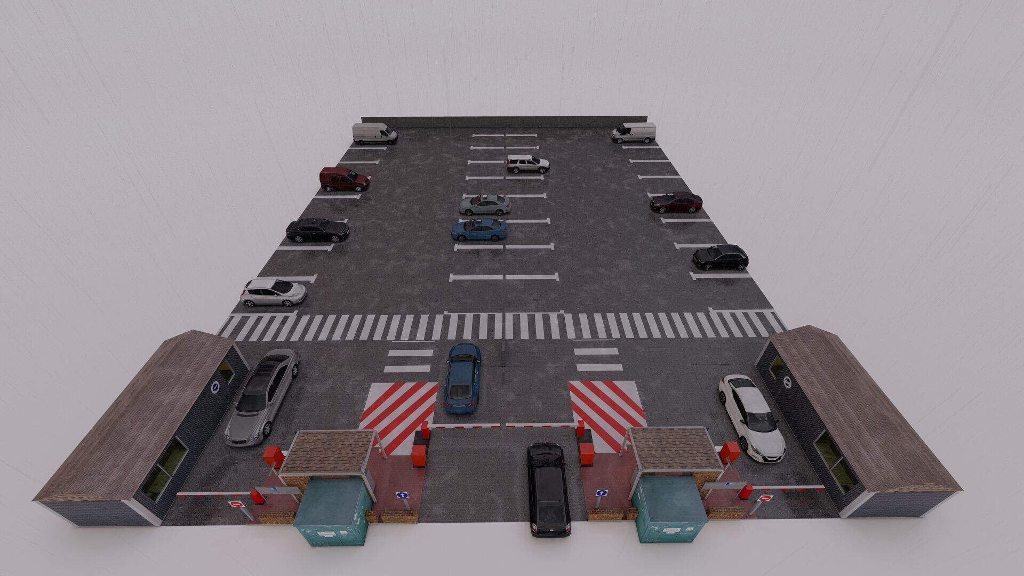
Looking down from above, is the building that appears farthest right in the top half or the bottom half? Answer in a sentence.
You can find the building that appears farthest right in the bottom half.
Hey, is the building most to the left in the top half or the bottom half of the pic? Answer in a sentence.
You can find the building most to the left in the bottom half.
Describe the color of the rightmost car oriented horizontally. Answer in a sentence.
The rightmost car oriented horizontally looks black in the image.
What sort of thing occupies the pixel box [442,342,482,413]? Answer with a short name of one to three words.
car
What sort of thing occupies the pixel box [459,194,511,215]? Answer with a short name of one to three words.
car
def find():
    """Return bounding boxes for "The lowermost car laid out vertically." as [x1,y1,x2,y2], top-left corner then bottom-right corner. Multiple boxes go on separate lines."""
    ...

[525,442,575,541]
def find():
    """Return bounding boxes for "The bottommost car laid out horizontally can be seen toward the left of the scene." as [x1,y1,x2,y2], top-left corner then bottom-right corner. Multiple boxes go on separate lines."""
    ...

[240,276,308,307]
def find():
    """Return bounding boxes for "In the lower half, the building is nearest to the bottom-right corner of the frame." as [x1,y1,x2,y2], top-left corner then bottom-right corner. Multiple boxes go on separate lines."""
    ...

[755,327,964,518]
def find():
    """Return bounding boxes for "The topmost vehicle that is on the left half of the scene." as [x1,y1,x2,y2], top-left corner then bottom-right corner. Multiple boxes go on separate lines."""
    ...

[352,122,399,145]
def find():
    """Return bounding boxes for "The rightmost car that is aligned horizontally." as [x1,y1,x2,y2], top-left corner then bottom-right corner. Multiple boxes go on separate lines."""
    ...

[693,244,750,270]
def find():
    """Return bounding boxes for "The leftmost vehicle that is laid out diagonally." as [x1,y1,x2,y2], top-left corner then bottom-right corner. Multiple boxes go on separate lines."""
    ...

[221,349,300,446]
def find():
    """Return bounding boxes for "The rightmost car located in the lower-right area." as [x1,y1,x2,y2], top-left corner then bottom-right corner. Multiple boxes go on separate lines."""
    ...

[721,376,789,466]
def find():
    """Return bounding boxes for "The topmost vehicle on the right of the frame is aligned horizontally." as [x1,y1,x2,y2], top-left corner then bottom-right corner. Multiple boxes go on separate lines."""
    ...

[611,122,657,143]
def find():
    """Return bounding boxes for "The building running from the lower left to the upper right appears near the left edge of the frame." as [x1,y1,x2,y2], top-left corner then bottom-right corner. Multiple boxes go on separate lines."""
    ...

[31,331,250,527]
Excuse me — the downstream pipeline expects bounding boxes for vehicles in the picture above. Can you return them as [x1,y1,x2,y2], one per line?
[693,244,750,270]
[451,218,508,241]
[240,276,308,307]
[721,376,789,466]
[318,168,369,192]
[442,342,482,413]
[611,122,657,143]
[285,218,350,242]
[459,194,511,215]
[650,191,705,213]
[508,154,552,173]
[525,442,575,541]
[352,122,399,145]
[221,349,300,446]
